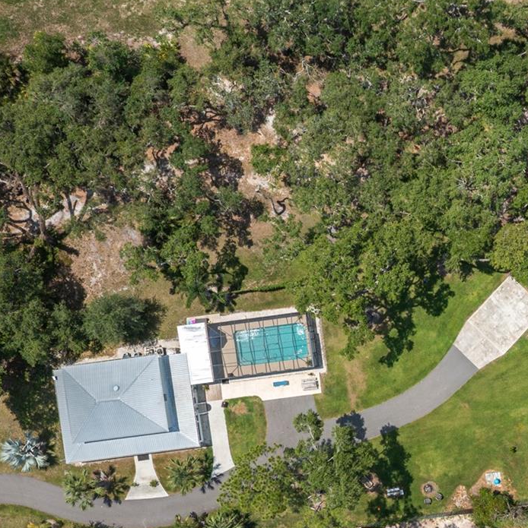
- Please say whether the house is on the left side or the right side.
left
